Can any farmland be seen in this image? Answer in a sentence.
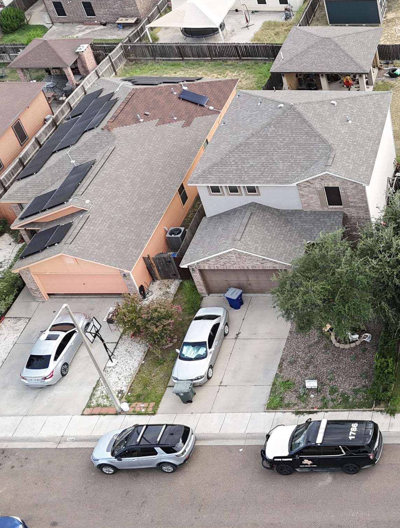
No, the picture contains no farmland.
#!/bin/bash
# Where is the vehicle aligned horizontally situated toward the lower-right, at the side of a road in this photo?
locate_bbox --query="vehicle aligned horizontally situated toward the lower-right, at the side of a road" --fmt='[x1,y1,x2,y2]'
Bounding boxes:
[258,416,384,475]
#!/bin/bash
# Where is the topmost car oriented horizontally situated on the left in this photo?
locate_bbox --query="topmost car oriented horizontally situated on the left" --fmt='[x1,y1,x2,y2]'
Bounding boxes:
[86,421,197,475]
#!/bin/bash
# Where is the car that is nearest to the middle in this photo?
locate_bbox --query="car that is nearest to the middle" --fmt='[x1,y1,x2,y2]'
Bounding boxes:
[172,312,229,390]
